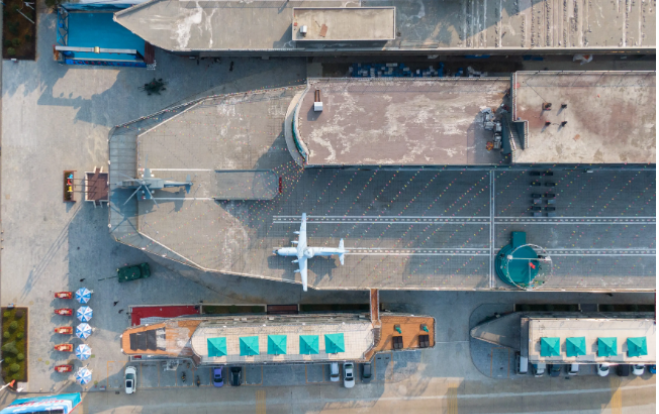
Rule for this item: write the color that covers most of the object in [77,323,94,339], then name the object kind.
white umbrella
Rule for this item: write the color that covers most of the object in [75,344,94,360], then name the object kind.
white umbrella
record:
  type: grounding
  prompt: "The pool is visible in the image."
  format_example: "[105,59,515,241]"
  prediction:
[53,8,156,68]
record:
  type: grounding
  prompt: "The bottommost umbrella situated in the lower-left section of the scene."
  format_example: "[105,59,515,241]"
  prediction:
[78,367,95,382]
